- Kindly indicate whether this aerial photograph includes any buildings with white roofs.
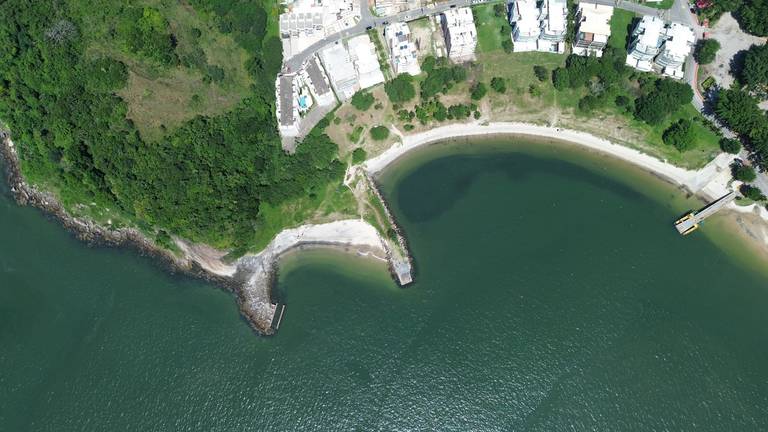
Yes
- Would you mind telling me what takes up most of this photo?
water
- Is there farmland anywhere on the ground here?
No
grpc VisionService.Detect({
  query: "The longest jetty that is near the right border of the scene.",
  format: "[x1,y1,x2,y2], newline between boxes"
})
[674,190,736,234]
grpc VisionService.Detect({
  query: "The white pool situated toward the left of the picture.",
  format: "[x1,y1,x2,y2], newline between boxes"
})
[298,94,312,110]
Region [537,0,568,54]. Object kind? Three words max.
house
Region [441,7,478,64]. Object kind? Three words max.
building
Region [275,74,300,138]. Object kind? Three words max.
building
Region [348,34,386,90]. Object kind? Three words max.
house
